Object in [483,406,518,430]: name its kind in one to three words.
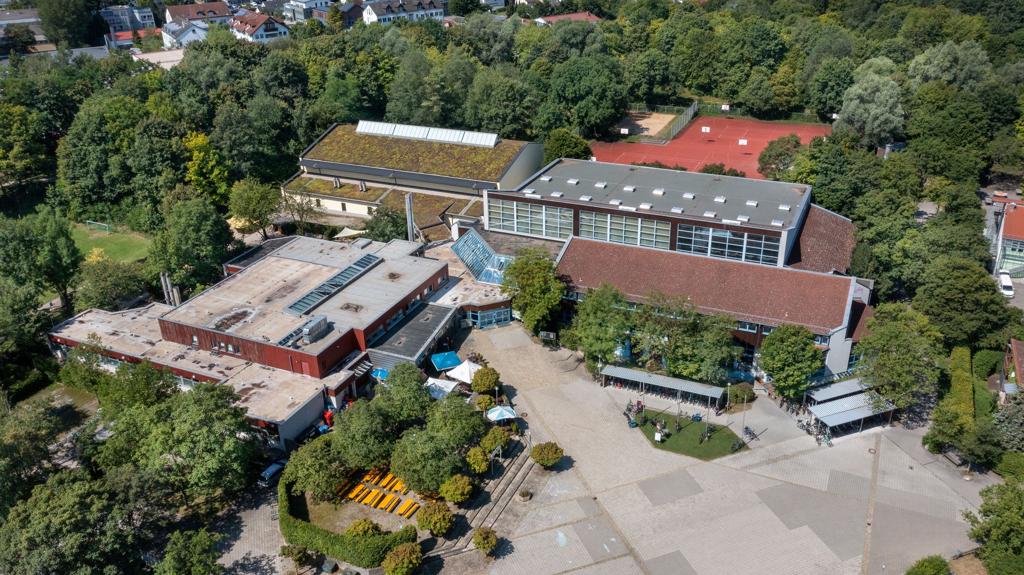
umbrella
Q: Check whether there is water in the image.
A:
No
